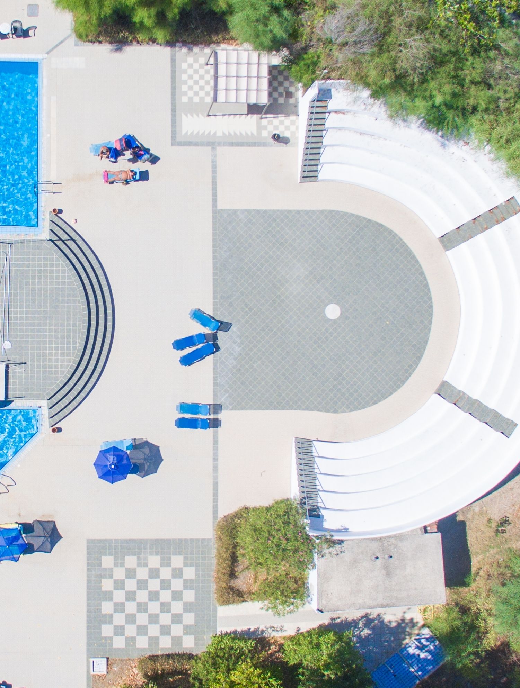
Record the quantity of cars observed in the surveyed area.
none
